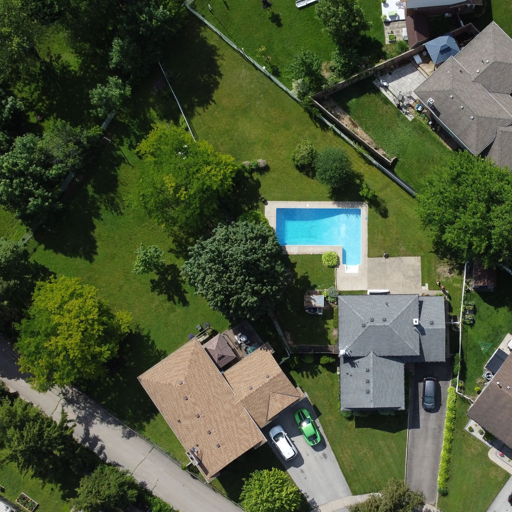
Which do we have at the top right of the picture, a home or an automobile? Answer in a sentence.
It is a home that can be seen at the top right of the picture.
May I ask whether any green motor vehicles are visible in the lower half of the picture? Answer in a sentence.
Yes, there is a green motor vehicle in the lower half of the picture.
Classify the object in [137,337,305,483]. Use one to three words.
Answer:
house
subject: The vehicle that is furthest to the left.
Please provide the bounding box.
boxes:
[269,423,297,462]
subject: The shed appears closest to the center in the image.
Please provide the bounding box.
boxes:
[303,294,325,308]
